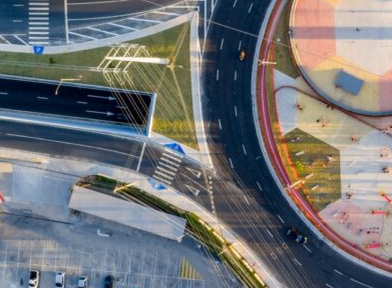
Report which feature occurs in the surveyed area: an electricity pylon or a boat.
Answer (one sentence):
The one in the frame is an electricity pylon.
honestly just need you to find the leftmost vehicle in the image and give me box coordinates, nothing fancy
[29,267,42,288]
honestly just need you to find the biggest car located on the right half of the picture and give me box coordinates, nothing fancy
[286,228,307,244]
